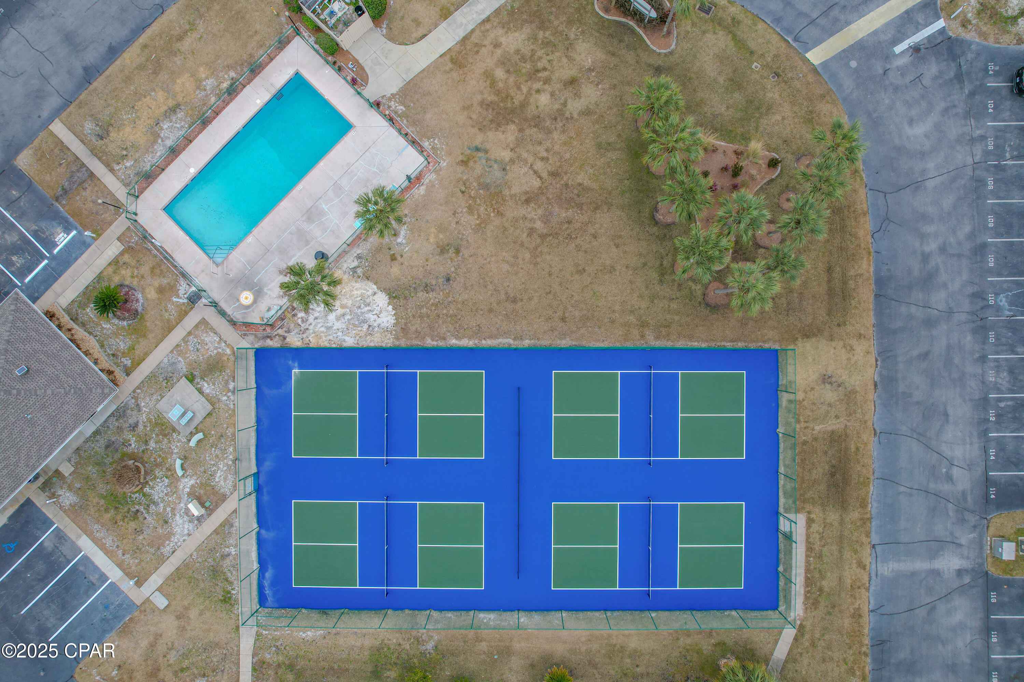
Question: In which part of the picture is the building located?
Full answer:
The building is located in the left region of the scene.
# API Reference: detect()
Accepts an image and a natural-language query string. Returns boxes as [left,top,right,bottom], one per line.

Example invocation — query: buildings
[0,288,120,511]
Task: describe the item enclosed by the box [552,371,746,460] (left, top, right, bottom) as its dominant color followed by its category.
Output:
green sports court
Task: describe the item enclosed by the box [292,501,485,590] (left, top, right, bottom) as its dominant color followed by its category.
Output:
green sports court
